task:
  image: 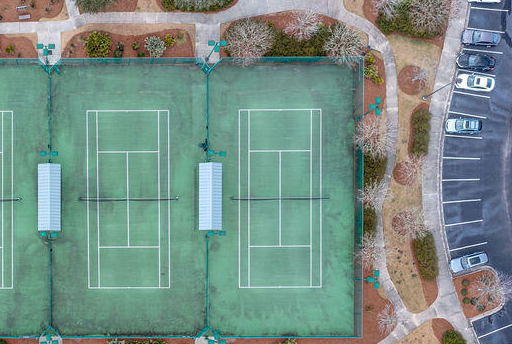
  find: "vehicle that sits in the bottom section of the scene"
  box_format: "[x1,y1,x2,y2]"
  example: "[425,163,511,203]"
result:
[450,252,489,272]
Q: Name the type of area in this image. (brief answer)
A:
sports ground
